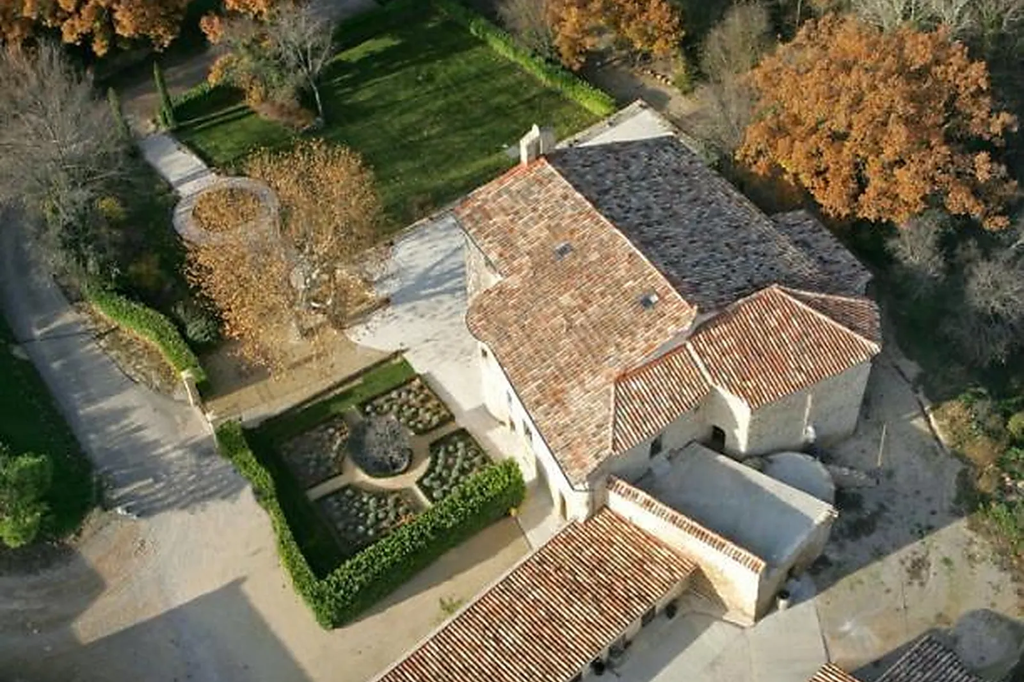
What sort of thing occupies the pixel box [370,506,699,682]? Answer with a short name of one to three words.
shed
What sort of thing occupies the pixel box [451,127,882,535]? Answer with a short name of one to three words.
house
